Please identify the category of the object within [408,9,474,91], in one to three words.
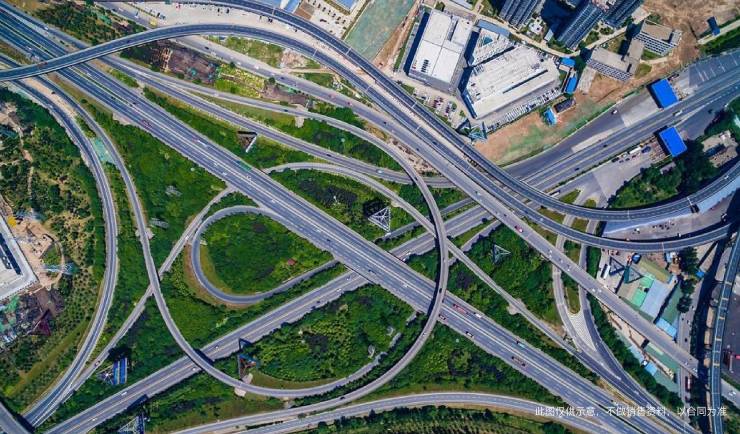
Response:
building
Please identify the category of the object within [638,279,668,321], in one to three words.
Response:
shed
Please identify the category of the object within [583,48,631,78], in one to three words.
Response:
building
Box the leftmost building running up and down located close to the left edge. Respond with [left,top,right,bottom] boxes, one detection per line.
[0,200,47,303]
